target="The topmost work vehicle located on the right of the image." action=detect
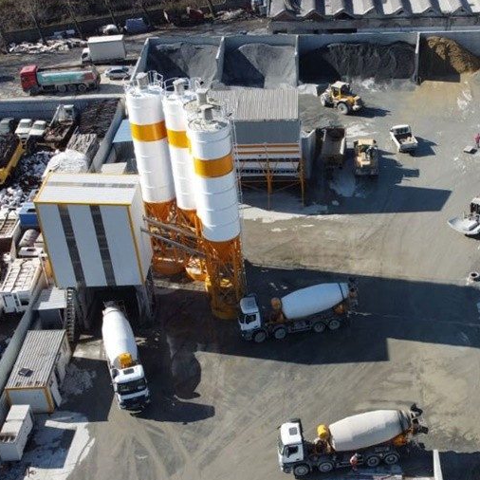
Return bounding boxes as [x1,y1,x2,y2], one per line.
[308,77,369,114]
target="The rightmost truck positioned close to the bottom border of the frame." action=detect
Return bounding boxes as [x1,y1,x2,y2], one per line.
[280,415,429,478]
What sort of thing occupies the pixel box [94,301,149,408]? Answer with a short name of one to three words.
truck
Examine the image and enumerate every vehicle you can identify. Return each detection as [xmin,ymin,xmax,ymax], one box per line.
[100,62,132,76]
[0,116,18,140]
[19,68,95,96]
[316,123,345,175]
[239,279,361,338]
[24,121,49,141]
[391,128,418,154]
[94,301,149,408]
[437,198,480,247]
[11,119,34,139]
[68,31,134,65]
[351,135,380,177]
[308,77,369,114]
[33,100,78,151]
[280,415,429,478]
